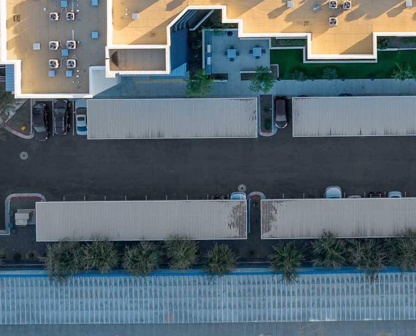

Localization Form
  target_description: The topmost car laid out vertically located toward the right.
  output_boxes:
[273,96,289,128]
